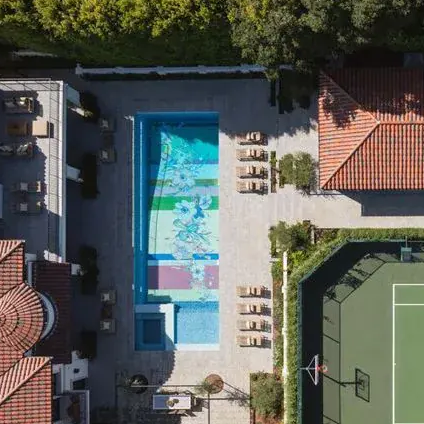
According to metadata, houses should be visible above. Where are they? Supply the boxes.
[0,79,93,424]
[319,65,424,190]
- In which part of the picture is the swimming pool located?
center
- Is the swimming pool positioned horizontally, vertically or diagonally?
vertically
